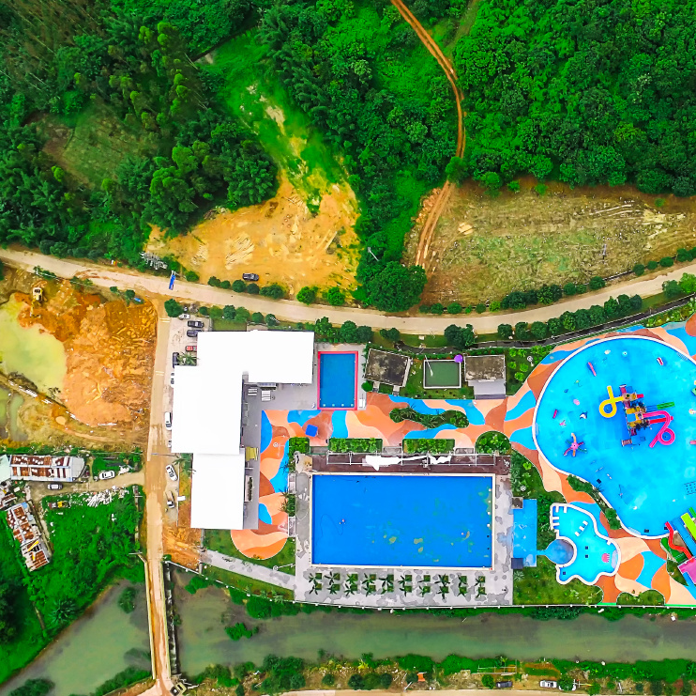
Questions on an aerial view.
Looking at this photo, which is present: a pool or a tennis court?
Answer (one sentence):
It is a pool that can be seen here.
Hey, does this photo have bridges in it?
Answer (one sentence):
Yes, a bridge appears in the view.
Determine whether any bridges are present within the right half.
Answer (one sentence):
No, I see no bridge within the right half.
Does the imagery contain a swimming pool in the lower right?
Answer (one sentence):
Yes, you'll find a swimming pool in the lower right.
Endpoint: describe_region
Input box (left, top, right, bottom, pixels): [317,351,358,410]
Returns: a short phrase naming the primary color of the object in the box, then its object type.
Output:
blue swimming pool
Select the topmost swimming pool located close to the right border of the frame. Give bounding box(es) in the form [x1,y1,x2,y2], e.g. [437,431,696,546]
[532,334,696,539]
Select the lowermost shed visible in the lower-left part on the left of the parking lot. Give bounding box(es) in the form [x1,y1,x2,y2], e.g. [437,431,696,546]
[8,501,55,570]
